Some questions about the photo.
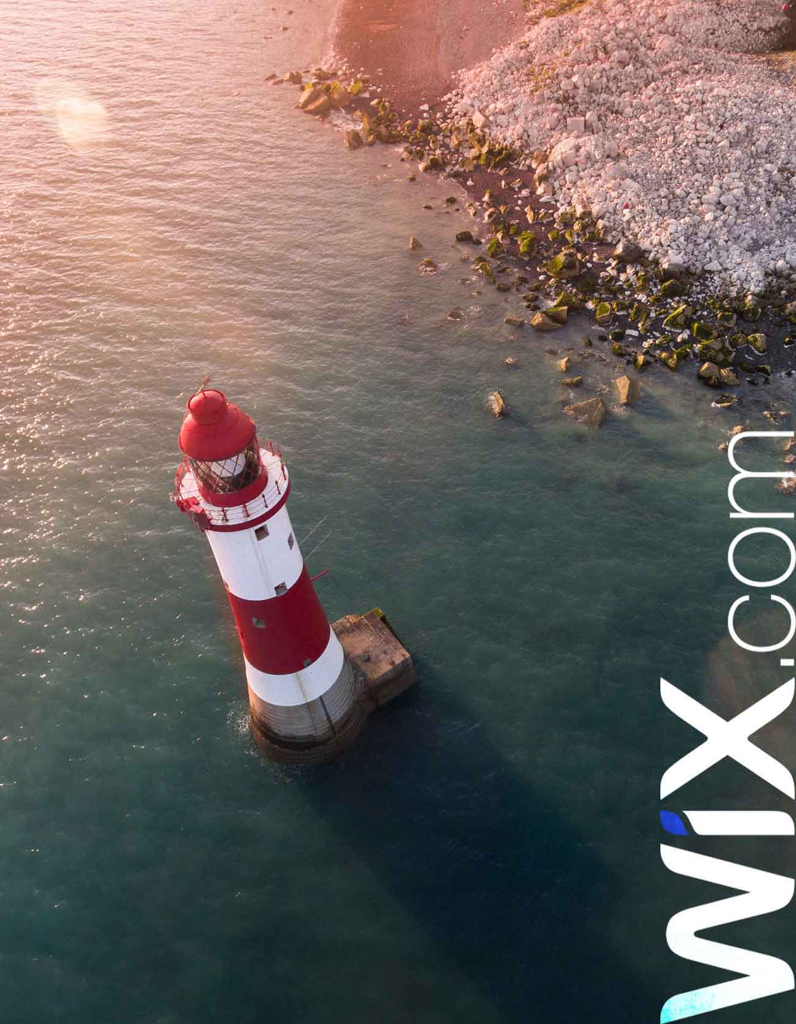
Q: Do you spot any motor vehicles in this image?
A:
No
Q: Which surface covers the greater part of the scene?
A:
water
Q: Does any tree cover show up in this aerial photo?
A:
No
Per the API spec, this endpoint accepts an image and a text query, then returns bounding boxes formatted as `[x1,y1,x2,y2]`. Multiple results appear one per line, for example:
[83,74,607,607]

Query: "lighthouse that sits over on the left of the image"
[165,367,368,771]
